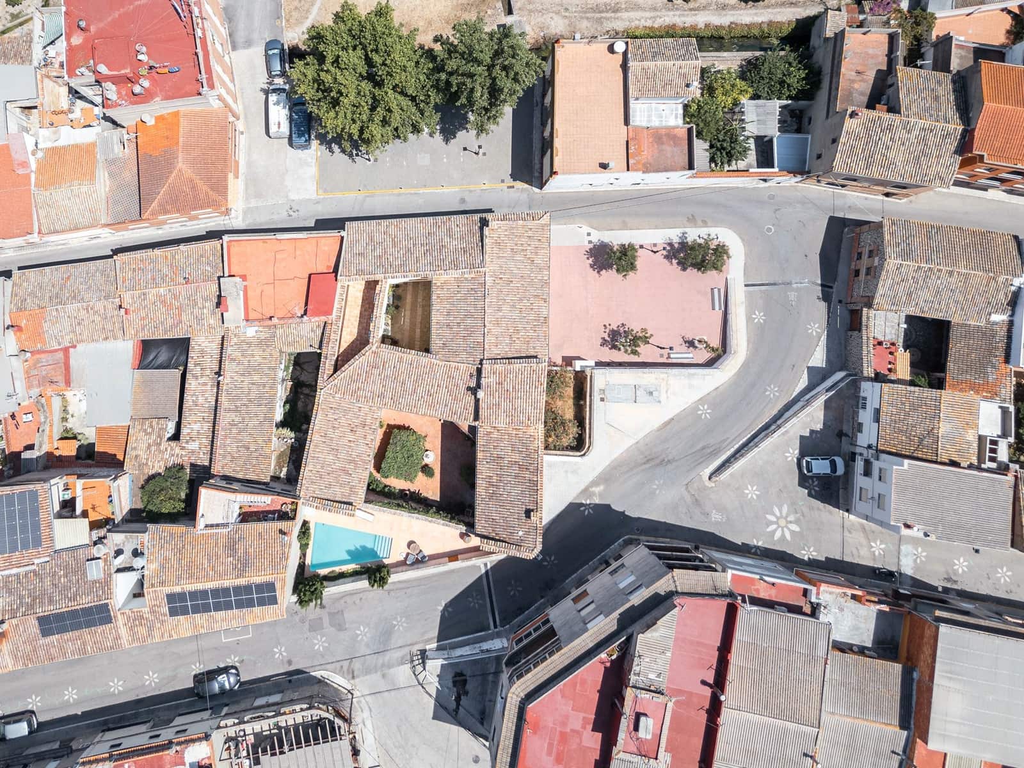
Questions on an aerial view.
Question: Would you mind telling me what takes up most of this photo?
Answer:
buildings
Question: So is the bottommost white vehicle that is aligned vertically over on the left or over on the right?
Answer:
left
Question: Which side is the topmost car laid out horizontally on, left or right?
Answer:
right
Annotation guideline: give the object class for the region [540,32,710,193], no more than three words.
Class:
house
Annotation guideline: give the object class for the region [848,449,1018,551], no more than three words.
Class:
house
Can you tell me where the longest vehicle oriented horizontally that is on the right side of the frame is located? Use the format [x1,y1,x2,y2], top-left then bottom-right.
[799,455,842,476]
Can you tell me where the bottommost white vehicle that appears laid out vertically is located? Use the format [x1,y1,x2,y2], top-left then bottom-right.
[266,86,289,140]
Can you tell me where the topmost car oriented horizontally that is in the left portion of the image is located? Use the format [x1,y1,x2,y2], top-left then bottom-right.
[195,667,241,694]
